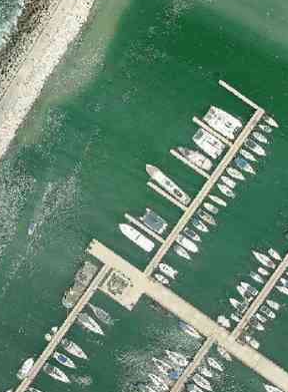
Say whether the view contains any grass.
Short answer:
No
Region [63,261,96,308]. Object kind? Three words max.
ship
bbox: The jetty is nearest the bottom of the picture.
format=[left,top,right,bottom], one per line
[170,339,217,392]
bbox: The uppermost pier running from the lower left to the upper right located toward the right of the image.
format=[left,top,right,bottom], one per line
[142,106,266,276]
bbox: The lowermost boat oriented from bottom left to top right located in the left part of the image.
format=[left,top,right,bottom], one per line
[16,360,31,380]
